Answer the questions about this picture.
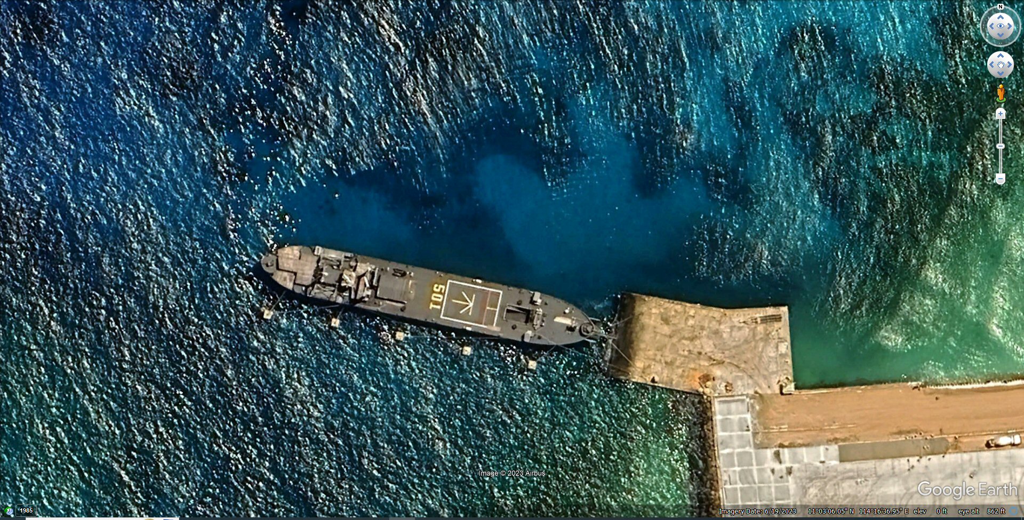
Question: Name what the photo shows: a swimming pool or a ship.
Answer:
ship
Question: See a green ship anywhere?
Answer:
No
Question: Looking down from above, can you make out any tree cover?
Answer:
No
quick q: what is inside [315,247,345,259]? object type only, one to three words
boat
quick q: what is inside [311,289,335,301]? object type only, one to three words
boat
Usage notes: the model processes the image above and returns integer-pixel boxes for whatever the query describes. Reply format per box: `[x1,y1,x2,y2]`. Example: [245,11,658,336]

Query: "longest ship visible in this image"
[261,245,617,345]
